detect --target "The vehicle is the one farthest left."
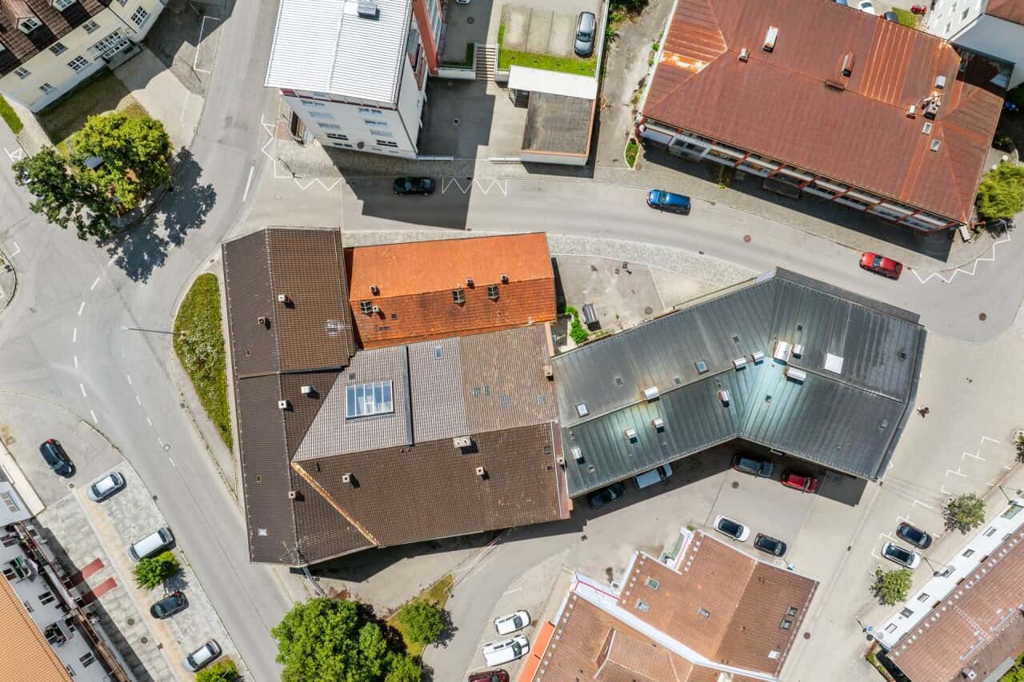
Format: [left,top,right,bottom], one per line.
[42,436,77,477]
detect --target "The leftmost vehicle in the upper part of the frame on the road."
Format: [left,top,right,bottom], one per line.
[395,175,435,196]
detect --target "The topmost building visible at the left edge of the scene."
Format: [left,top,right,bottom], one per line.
[0,0,171,112]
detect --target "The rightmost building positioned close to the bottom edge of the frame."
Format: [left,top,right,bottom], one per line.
[879,503,1024,682]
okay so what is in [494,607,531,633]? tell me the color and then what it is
white car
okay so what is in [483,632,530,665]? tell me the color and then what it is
white van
